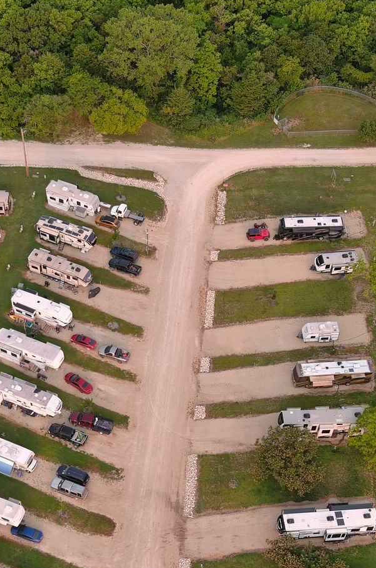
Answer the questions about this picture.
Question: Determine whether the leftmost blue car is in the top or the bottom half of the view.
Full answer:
Seen from above, the leftmost blue car lies in the bottom half of the view.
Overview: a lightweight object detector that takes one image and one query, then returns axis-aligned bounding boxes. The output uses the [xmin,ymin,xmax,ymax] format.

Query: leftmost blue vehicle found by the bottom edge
[12,521,43,541]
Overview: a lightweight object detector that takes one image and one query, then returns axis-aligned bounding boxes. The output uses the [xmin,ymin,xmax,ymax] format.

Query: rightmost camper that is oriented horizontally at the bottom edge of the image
[273,503,376,544]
